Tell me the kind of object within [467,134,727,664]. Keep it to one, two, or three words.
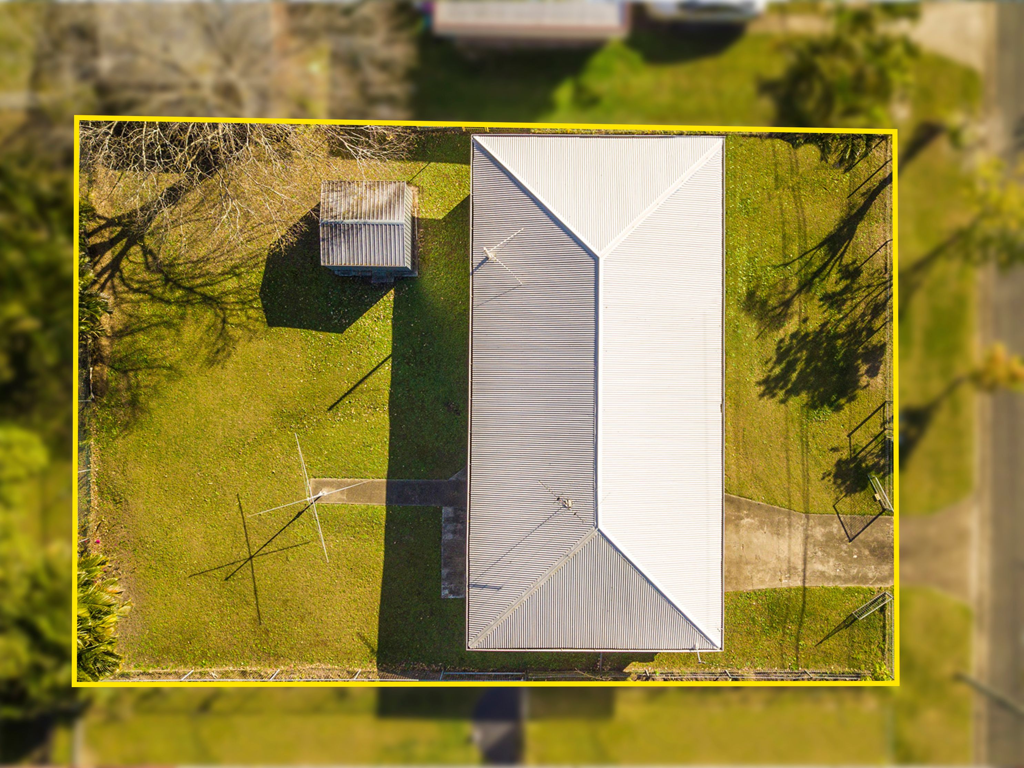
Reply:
house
